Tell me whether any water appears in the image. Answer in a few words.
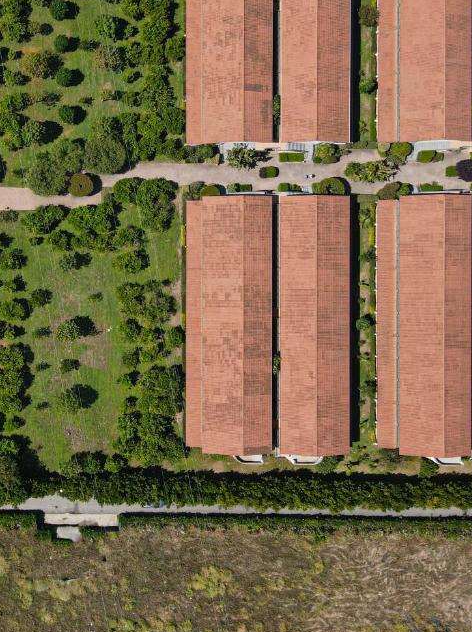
No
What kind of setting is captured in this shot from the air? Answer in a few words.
residential area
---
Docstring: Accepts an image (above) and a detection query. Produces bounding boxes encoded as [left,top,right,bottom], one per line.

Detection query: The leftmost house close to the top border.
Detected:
[184,0,273,149]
